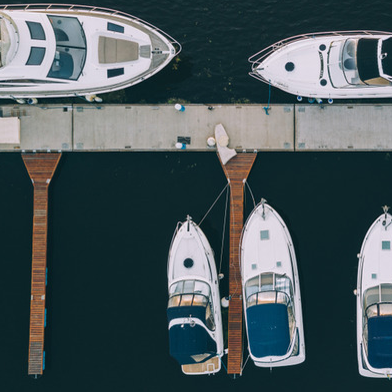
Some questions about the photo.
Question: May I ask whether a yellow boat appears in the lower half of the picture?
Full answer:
No, in the lower half of the picture there is no yellow boat.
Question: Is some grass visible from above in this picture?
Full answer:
No, no grass is visible.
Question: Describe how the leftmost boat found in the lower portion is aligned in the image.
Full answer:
Seen from above, the leftmost boat found in the lower portion lies from top to bottom.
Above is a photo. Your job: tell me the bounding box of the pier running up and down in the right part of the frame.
[217,151,258,379]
